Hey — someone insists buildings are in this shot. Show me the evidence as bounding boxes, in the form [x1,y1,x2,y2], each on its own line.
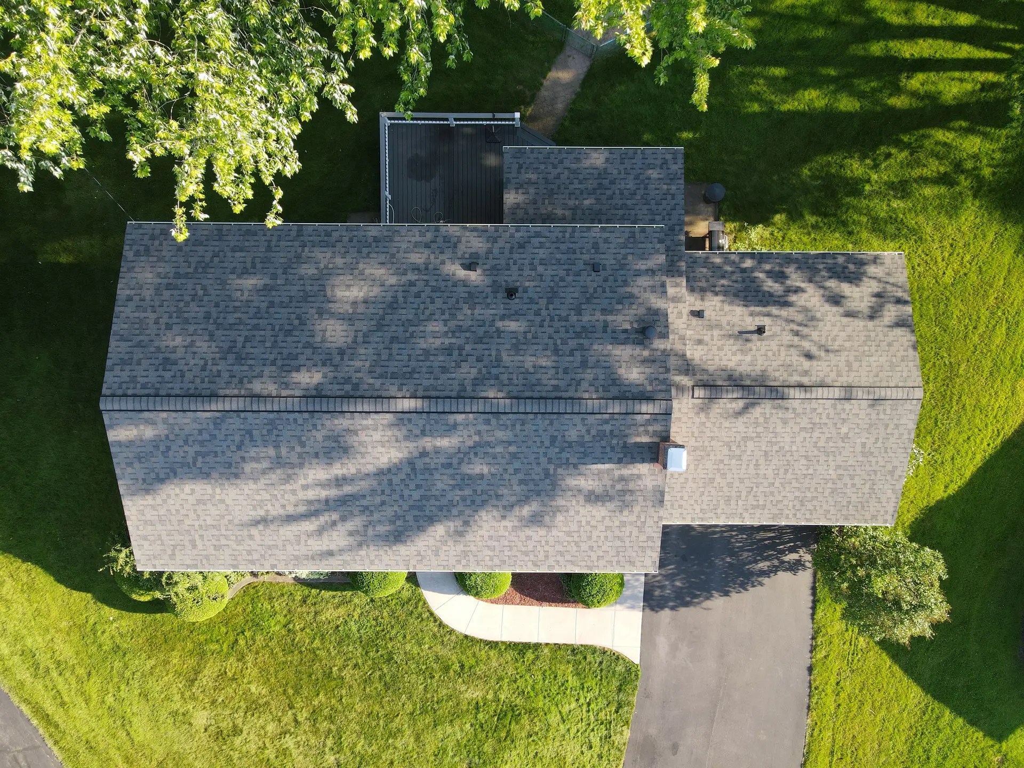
[99,147,924,574]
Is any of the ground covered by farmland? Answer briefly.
No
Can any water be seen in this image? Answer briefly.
No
